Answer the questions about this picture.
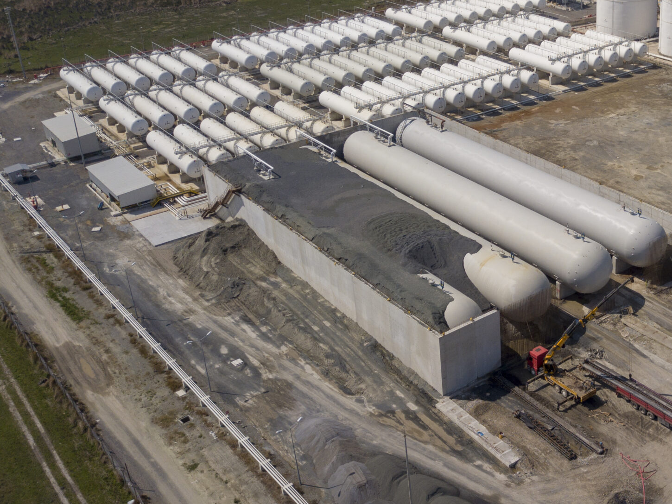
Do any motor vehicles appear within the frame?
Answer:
Yes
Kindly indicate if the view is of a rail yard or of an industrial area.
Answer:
industrial area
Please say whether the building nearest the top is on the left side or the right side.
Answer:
left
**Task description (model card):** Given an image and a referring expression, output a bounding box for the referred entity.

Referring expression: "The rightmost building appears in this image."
[86,148,165,207]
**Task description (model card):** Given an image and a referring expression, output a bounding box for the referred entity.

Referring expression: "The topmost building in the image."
[43,111,109,159]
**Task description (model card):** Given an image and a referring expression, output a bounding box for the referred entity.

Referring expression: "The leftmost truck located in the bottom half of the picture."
[520,287,622,417]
